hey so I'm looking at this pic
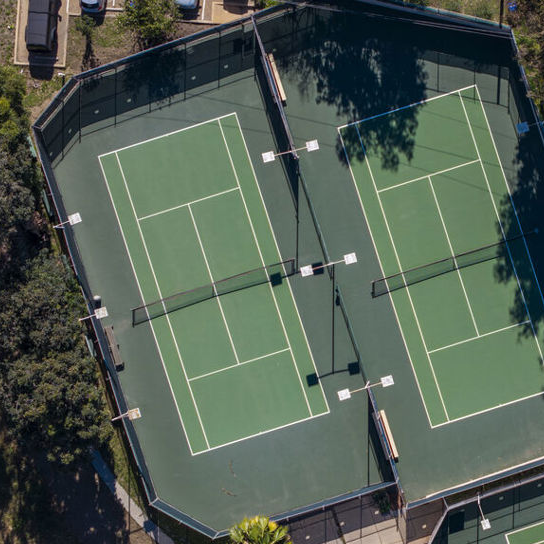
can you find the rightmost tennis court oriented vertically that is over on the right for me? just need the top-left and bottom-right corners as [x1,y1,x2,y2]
[258,1,544,502]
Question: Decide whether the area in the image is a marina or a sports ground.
sports ground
